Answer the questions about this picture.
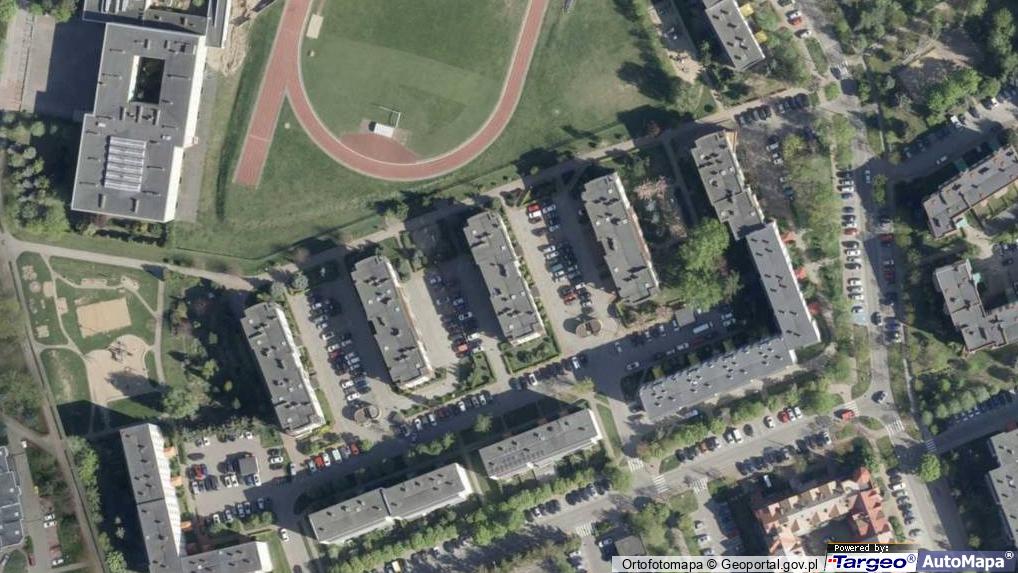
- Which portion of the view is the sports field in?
top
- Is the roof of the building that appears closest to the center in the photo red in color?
No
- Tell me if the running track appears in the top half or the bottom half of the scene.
top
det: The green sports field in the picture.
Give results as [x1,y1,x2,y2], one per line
[301,0,532,161]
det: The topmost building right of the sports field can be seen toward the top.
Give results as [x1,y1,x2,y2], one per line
[702,0,766,76]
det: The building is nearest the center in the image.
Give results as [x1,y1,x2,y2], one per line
[463,210,546,343]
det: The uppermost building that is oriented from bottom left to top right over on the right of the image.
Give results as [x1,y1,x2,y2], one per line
[923,145,1018,245]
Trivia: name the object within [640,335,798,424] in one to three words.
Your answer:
building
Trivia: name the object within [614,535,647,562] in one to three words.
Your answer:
shed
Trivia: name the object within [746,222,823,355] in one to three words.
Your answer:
building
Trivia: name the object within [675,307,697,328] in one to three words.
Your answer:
shed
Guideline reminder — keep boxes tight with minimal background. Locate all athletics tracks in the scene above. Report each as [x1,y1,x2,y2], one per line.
[234,0,553,188]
